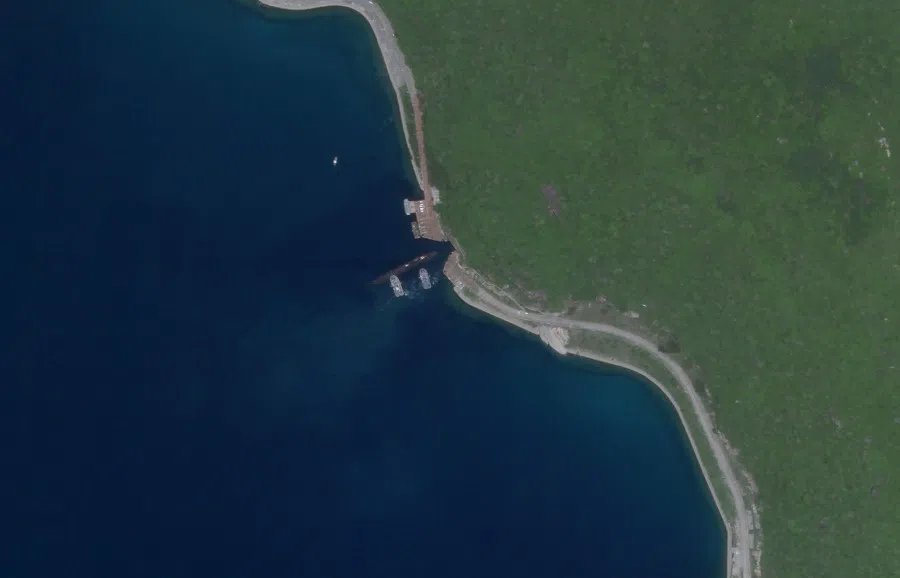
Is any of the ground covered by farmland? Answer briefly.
No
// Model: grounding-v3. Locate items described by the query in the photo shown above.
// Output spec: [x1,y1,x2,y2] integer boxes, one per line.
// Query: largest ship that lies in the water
[374,252,436,282]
